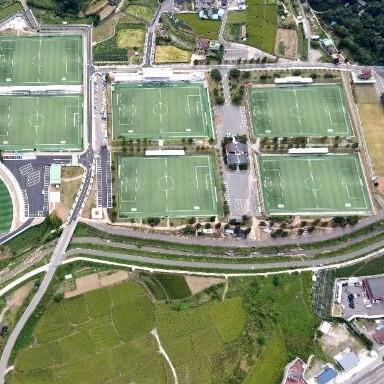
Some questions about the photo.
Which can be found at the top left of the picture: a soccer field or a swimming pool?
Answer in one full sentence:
Looking at the top left of the picture, you will find a soccer field.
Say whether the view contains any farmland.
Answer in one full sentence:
Yes, the picture does contain farmland.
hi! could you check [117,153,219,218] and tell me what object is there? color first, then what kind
green soccer field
